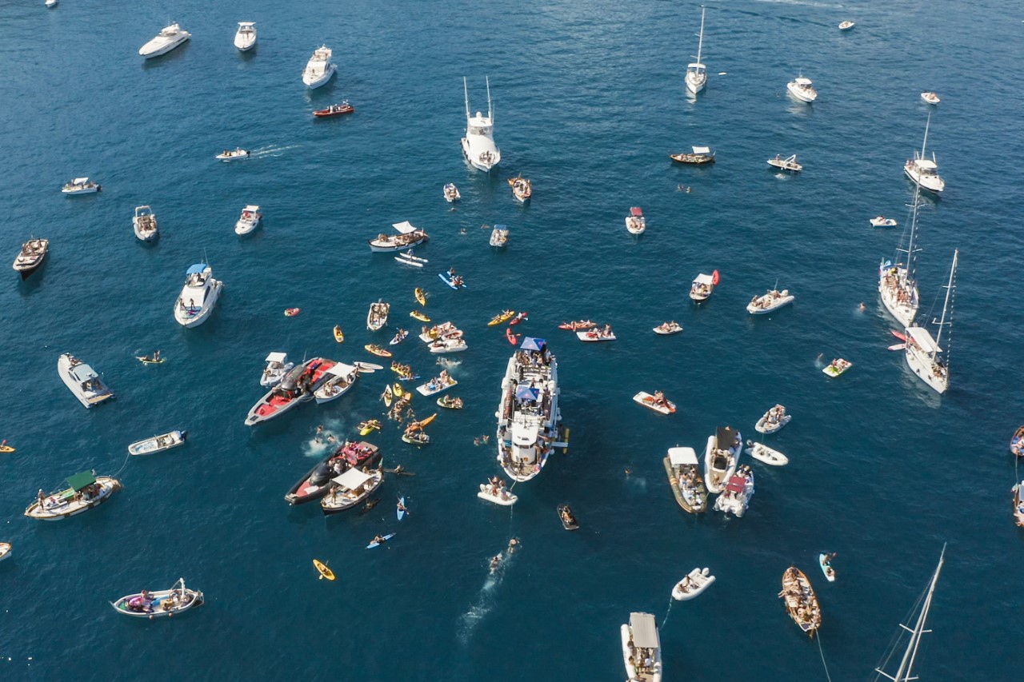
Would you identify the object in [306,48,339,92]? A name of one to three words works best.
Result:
boat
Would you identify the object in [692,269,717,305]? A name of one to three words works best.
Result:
boat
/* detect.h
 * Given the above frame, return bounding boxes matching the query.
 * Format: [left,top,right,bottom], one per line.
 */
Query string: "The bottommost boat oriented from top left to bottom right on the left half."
[313,558,335,579]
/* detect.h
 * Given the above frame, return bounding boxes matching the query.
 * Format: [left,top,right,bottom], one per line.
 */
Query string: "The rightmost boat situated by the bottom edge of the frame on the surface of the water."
[851,553,944,682]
